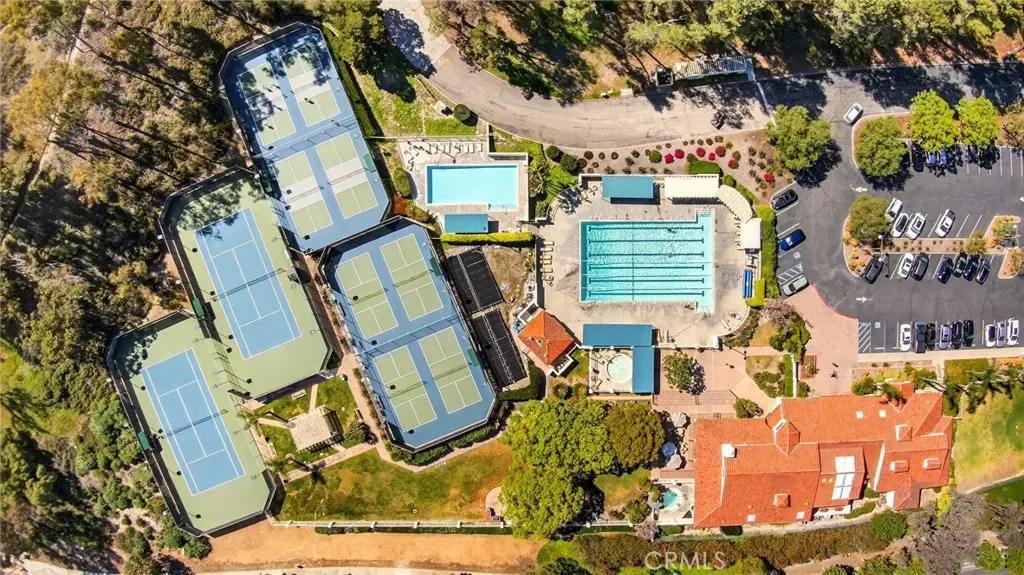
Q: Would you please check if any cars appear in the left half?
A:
No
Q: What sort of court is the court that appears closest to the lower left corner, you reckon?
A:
tennis court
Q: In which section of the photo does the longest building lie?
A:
bottom right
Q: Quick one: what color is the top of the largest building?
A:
orange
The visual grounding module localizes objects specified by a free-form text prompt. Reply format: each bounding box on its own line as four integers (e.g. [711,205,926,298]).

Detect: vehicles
[911,320,927,353]
[995,321,1008,348]
[905,212,926,240]
[983,324,997,347]
[934,209,956,237]
[771,189,798,209]
[961,252,981,280]
[890,211,910,238]
[898,324,912,351]
[781,276,809,296]
[895,252,915,279]
[909,252,930,281]
[951,251,970,276]
[973,258,992,285]
[962,319,976,347]
[937,324,952,350]
[884,196,905,223]
[711,113,723,127]
[840,101,861,127]
[862,255,885,284]
[910,146,925,173]
[778,229,806,249]
[925,324,938,350]
[1006,318,1022,345]
[935,256,953,283]
[950,322,965,349]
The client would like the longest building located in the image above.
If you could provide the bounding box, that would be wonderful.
[693,384,953,528]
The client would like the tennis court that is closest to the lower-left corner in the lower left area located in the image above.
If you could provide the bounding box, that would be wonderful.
[115,317,273,532]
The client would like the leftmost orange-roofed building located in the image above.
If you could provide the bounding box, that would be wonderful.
[517,309,574,365]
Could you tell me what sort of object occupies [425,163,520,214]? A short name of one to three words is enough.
swimming pool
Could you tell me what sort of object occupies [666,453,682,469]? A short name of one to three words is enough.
umbrella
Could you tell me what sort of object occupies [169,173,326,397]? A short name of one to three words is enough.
tennis court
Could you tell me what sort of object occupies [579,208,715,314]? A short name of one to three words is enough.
swimming pool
